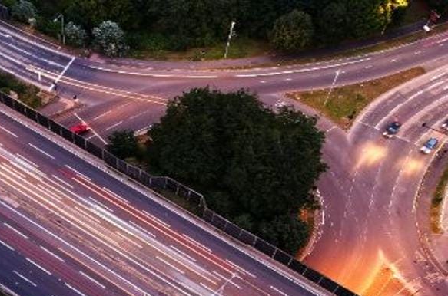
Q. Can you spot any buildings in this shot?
No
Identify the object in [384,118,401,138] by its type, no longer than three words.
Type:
car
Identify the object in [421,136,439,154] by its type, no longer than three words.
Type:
car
